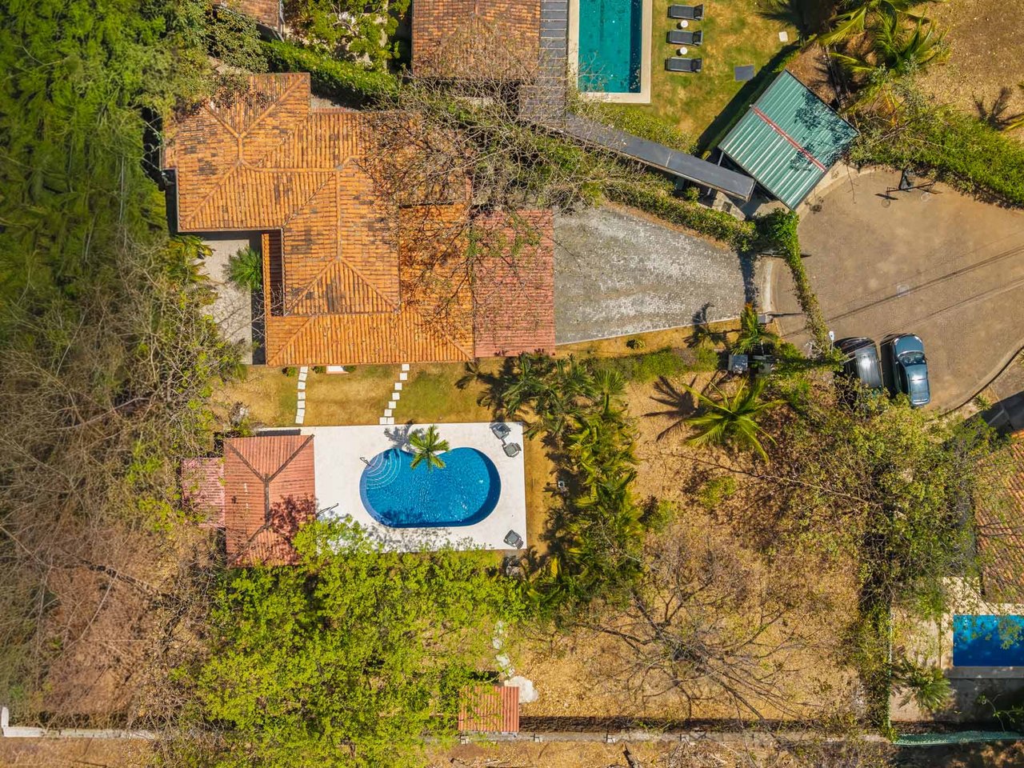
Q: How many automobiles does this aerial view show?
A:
2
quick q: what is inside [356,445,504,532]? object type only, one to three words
swimming pool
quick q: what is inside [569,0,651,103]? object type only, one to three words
swimming pool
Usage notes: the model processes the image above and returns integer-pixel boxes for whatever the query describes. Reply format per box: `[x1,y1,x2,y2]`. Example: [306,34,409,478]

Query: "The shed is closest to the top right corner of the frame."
[714,69,859,211]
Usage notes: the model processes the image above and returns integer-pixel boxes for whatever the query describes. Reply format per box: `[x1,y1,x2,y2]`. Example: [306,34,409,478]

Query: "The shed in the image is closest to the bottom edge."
[461,678,519,732]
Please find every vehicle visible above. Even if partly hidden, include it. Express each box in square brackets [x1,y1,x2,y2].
[835,328,884,405]
[888,334,932,407]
